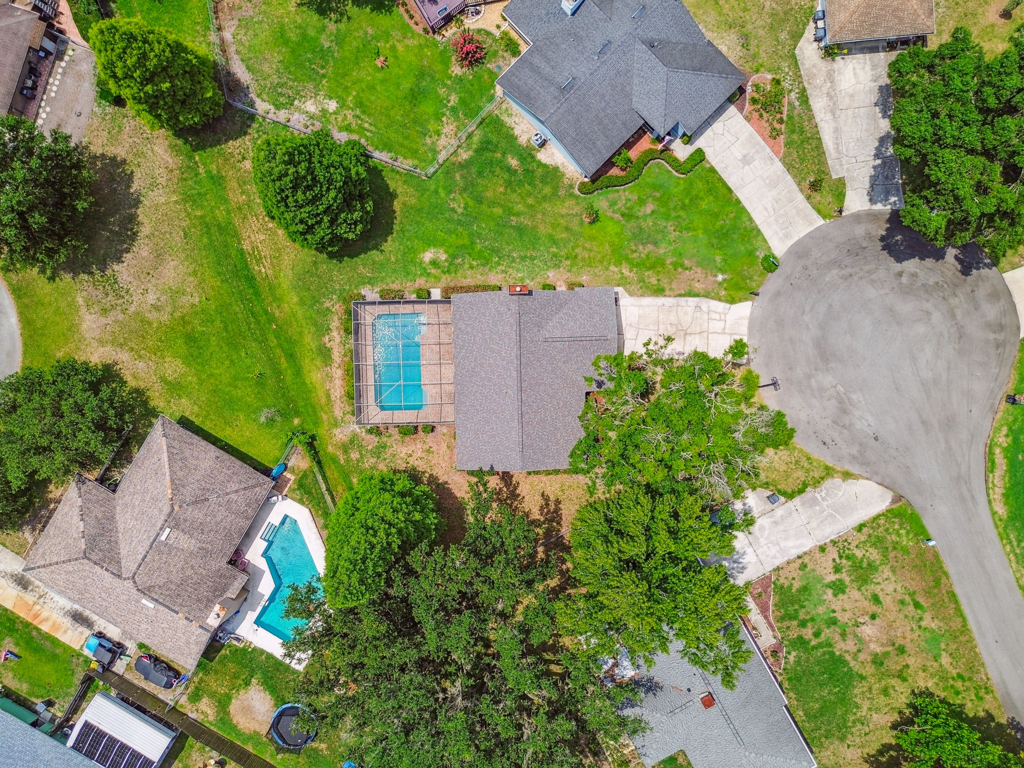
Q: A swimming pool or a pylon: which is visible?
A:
swimming pool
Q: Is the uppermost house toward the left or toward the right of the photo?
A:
right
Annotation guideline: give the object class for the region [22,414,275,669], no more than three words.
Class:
house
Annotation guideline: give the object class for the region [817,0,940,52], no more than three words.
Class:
house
